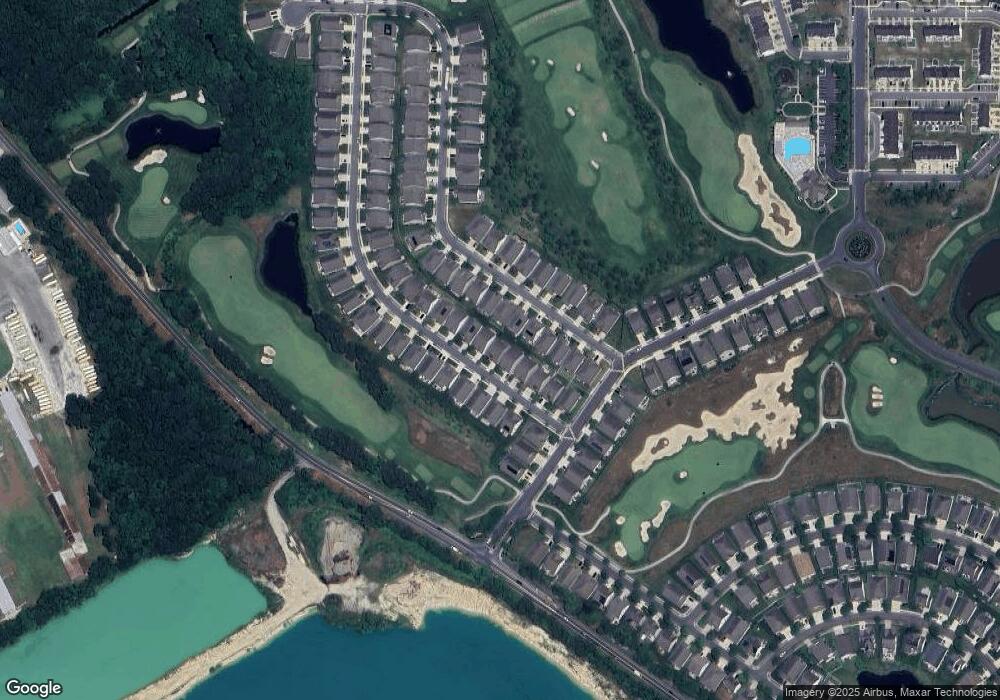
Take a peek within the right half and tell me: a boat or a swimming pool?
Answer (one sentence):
It is a swimming pool that can be seen within the right half.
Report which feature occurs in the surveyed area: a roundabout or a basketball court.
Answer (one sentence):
It is a roundabout that can be seen here.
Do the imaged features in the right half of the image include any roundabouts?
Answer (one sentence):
Yes, a roundabout is visible in the right half of the image.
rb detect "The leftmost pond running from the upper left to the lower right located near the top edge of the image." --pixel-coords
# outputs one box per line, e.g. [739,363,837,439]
[643,0,755,114]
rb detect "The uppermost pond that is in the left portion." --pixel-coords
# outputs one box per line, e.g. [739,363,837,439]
[126,114,222,160]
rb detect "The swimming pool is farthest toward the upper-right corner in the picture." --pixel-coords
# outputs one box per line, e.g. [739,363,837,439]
[774,122,815,183]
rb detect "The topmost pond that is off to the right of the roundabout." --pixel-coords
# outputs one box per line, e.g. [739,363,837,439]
[950,233,1000,354]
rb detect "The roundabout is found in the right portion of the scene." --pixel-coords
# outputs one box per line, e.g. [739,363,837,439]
[816,208,888,294]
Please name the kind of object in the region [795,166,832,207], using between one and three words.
building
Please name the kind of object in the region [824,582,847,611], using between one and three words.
house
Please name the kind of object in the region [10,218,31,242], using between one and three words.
swimming pool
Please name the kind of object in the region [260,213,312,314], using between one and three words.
pond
